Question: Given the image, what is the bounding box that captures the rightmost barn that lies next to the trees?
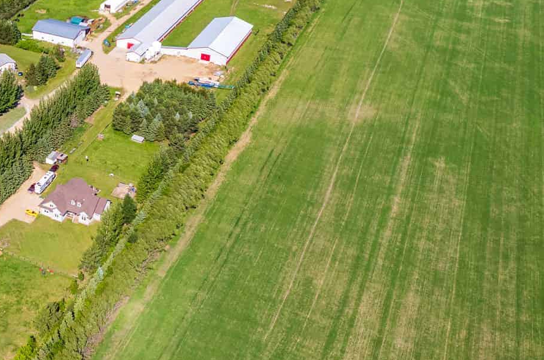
[185,14,254,66]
